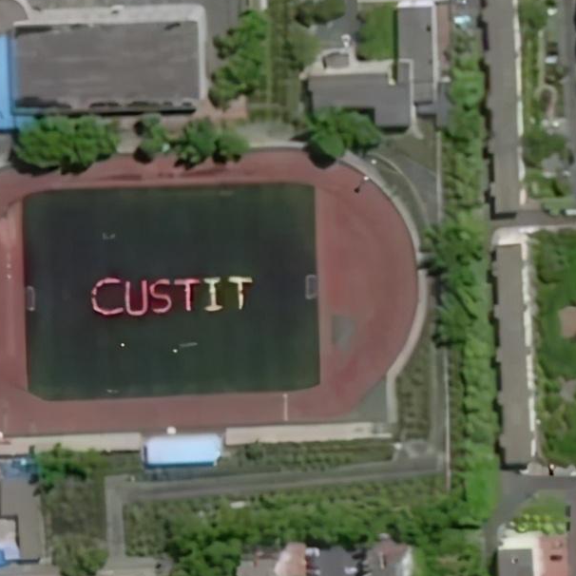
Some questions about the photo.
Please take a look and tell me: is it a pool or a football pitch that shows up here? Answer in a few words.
football pitch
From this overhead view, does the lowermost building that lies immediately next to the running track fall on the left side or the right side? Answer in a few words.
left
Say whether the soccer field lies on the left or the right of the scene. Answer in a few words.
left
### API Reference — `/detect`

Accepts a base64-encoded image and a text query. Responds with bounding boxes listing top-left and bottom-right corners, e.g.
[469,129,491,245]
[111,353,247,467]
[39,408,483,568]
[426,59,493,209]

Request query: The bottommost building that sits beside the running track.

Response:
[0,474,47,562]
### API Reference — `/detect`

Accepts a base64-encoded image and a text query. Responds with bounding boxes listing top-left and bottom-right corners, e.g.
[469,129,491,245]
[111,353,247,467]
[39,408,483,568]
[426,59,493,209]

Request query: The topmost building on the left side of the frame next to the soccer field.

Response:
[16,1,207,114]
